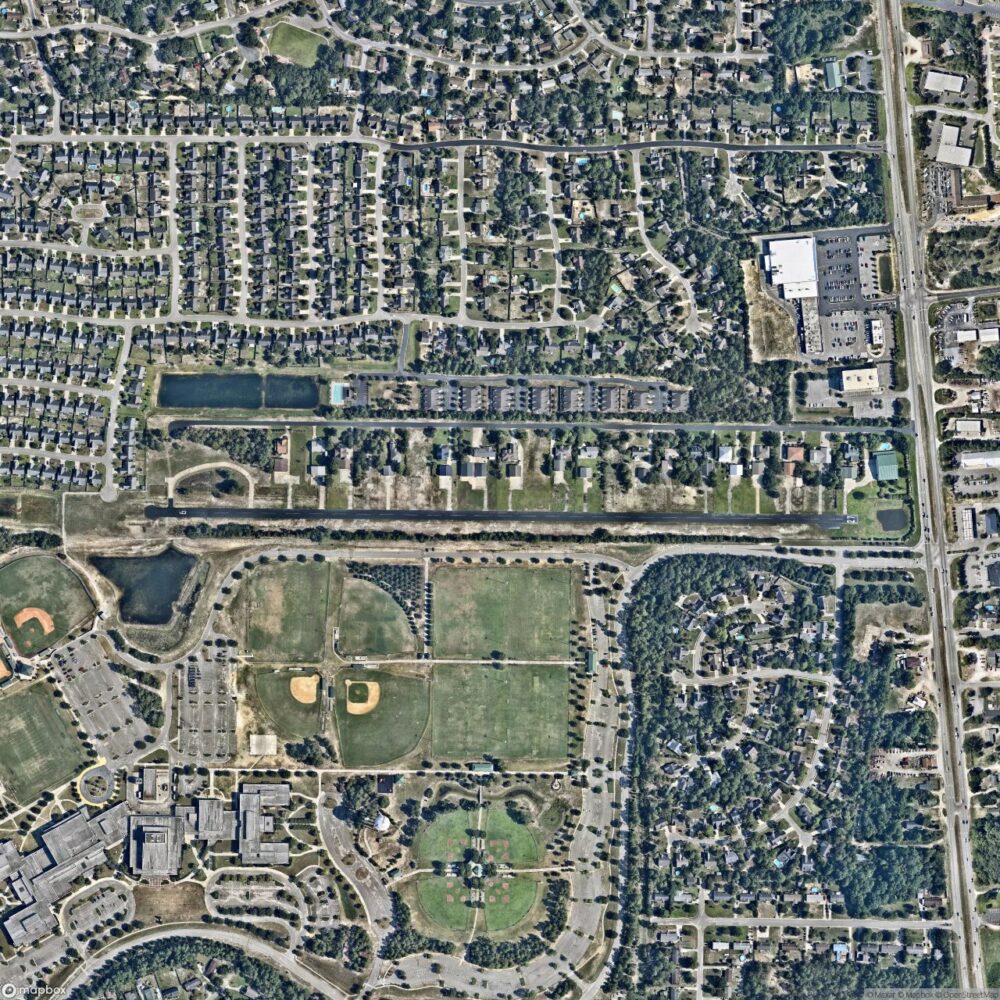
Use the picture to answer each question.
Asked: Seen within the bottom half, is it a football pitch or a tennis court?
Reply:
football pitch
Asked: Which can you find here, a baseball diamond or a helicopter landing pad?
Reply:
baseball diamond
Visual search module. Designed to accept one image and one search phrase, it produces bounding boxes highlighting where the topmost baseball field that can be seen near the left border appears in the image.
[0,554,98,658]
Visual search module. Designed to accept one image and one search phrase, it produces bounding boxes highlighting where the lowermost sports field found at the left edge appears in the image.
[0,683,107,805]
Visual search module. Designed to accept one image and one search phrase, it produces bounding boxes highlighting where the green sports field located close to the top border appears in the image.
[270,22,325,67]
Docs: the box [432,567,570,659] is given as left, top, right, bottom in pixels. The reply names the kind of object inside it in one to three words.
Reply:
soccer field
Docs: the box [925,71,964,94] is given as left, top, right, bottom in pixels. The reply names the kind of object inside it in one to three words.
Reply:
building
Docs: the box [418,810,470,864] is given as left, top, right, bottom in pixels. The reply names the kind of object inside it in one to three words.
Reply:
baseball field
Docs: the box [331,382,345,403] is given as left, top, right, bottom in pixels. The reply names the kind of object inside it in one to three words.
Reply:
swimming pool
